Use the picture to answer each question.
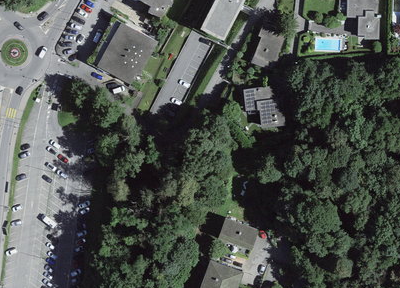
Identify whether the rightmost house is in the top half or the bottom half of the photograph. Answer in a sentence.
The top half of the photo is where the rightmost house is.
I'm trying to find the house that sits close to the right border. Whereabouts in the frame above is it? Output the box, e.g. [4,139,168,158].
[346,0,380,40]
